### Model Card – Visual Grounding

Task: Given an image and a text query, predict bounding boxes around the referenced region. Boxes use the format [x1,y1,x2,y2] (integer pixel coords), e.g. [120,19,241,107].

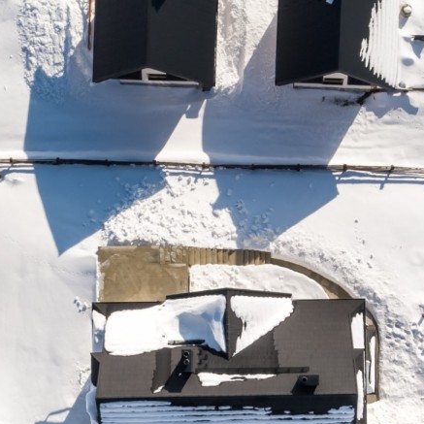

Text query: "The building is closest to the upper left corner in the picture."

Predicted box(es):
[93,0,216,92]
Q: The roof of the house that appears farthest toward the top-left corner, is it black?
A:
Yes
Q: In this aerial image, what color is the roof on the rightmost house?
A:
black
